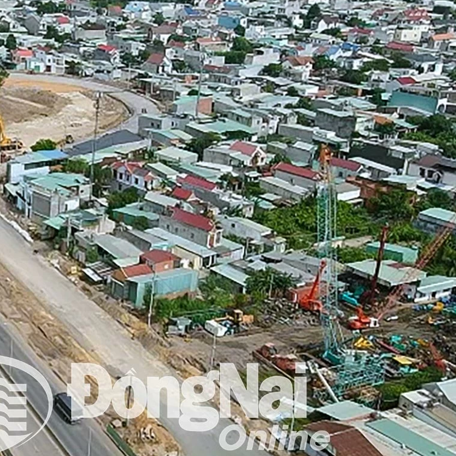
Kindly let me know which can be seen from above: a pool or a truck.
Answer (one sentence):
Visible in the photo is a truck.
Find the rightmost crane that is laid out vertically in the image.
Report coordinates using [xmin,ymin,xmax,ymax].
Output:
[357,224,387,311]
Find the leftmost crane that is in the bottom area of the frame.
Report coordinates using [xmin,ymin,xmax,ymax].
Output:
[299,261,335,316]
